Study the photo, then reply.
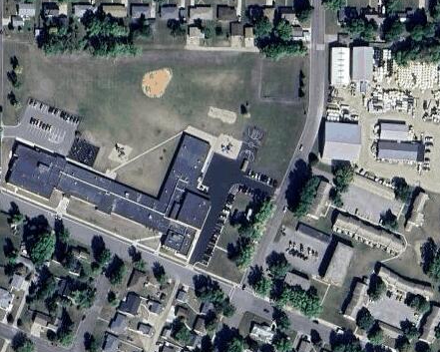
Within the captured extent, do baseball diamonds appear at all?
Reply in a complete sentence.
Yes, the image includes a baseball diamond.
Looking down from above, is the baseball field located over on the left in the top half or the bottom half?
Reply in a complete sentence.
The baseball field located over on the left sits in the top half of the picture.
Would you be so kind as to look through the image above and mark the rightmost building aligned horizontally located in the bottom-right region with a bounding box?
[404,278,436,298]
